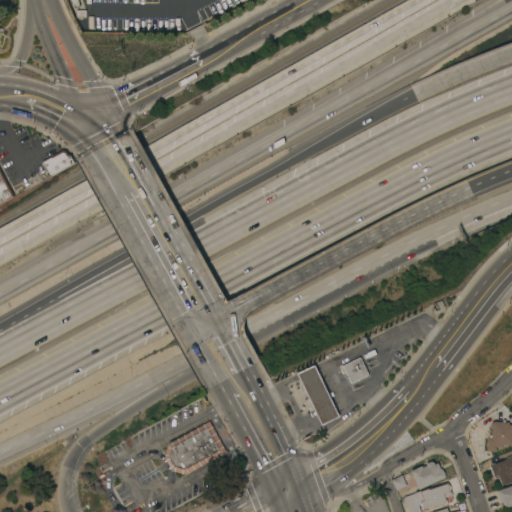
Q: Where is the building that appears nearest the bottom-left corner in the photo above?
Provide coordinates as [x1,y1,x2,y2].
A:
[166,422,227,474]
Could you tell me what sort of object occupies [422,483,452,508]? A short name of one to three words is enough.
house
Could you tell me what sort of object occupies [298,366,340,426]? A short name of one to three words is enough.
building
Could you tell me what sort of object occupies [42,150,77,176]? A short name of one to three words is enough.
building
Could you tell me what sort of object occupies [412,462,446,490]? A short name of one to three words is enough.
house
